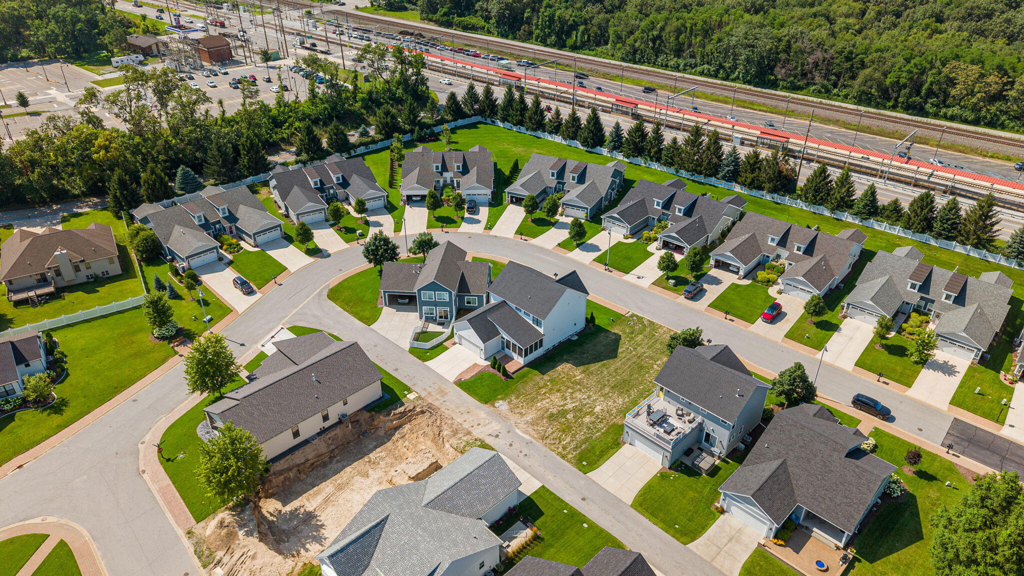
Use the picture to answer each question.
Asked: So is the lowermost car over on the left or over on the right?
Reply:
right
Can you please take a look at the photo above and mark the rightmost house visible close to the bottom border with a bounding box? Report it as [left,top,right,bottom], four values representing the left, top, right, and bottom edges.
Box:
[718,398,893,576]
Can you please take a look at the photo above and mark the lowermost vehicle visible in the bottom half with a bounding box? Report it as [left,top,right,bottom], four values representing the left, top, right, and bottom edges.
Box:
[850,392,894,421]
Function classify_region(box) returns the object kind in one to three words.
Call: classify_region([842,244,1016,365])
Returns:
house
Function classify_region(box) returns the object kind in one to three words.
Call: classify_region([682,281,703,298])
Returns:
car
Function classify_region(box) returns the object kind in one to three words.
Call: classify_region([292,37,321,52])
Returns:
vehicle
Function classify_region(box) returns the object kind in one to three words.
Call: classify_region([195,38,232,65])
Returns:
building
